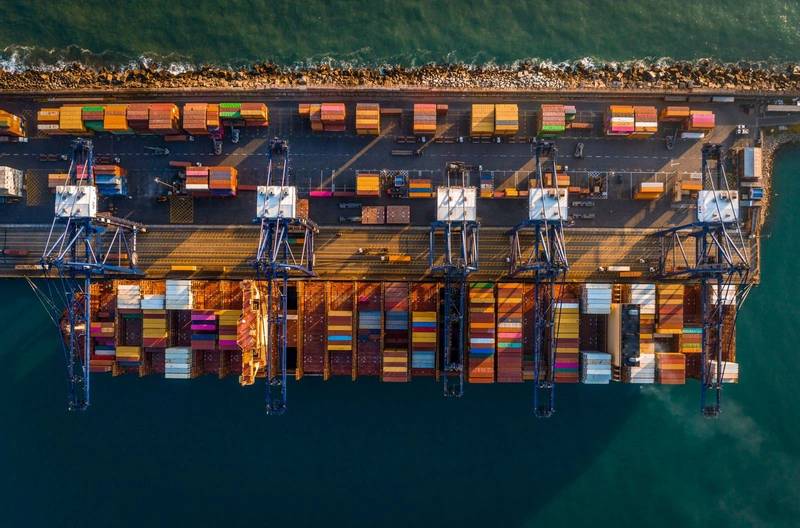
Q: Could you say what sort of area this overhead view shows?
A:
port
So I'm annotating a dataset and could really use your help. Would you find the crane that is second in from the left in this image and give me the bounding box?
[255,138,323,417]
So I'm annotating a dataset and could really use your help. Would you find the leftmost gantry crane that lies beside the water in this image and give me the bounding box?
[42,141,150,414]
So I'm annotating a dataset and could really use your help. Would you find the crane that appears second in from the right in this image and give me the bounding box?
[504,141,573,422]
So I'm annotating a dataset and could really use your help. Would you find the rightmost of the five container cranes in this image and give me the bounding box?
[648,143,748,421]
